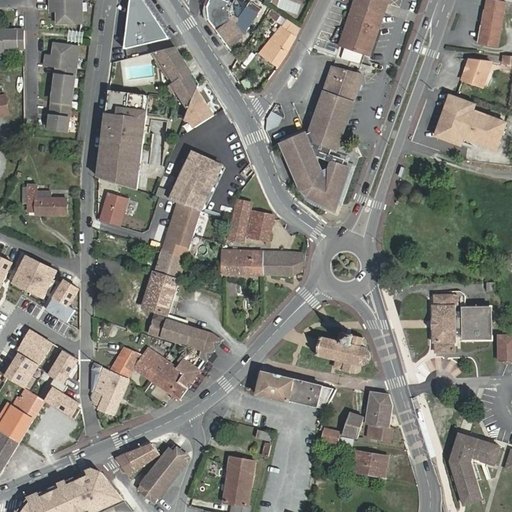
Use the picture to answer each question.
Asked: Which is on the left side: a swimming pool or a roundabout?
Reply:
swimming pool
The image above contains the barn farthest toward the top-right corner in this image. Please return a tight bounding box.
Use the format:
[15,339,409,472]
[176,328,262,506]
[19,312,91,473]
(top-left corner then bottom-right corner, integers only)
[478,0,506,48]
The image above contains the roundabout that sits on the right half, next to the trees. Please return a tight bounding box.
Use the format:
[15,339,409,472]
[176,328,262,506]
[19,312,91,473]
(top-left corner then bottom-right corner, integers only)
[316,236,376,297]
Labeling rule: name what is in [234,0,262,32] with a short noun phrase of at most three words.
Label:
house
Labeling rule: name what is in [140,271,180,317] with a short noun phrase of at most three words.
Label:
barn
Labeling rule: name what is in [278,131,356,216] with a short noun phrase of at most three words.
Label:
building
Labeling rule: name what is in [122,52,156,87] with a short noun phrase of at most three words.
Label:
swimming pool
